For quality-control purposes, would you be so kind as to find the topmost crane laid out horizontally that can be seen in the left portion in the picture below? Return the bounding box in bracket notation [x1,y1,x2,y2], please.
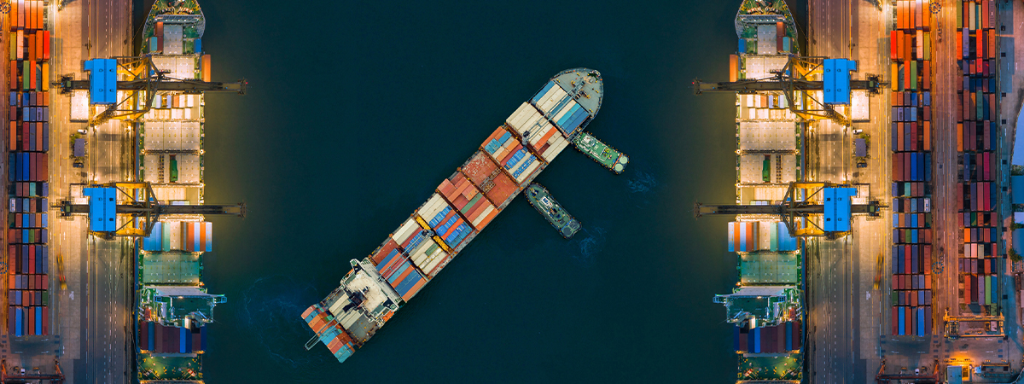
[52,50,247,125]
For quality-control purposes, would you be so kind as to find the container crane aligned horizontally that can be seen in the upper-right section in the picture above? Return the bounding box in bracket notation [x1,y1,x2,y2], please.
[695,50,889,125]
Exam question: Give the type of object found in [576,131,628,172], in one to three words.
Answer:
boat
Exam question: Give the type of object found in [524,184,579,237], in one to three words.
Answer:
boat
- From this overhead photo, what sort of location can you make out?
port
